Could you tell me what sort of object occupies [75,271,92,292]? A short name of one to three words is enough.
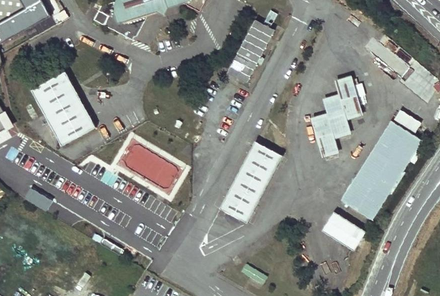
vehicle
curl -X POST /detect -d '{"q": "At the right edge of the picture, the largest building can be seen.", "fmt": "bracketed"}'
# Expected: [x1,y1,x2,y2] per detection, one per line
[340,121,422,220]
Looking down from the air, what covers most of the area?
paved ground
